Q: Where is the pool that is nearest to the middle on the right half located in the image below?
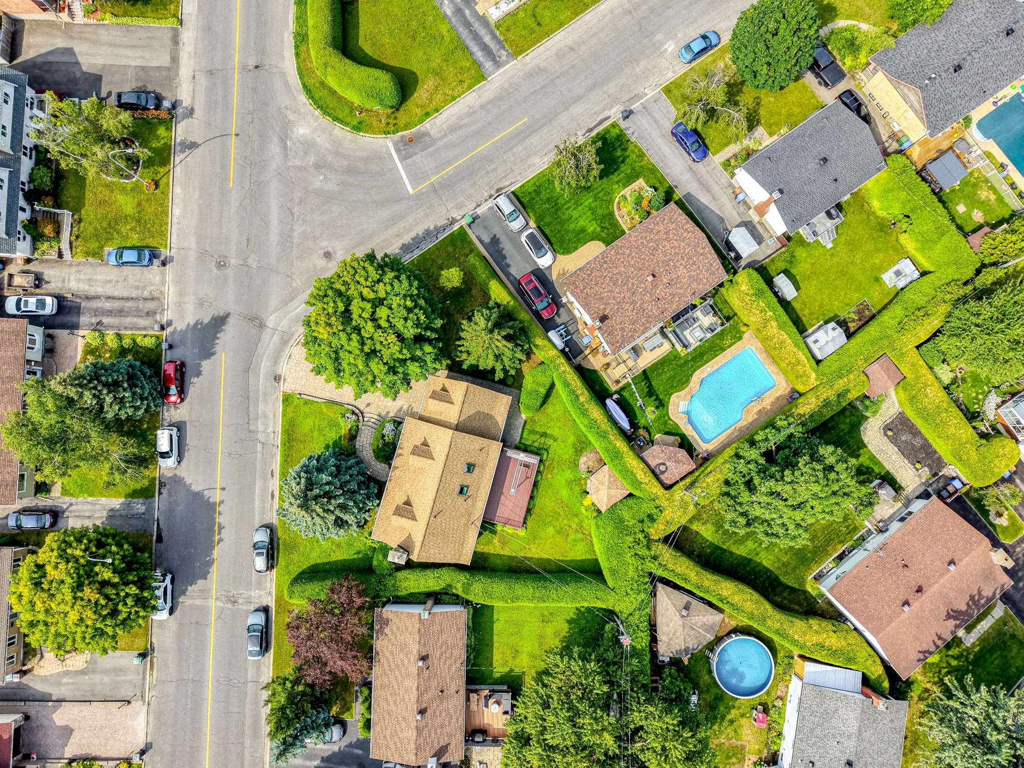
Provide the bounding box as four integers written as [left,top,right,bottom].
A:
[678,346,778,444]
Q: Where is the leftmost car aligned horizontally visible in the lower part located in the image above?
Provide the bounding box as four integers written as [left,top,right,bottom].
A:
[6,508,56,533]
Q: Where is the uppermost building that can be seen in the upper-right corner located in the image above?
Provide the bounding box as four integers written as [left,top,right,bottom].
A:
[854,0,1024,148]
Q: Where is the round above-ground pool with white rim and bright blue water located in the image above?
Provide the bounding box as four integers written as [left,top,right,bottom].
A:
[696,627,776,701]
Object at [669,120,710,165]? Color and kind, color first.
blue car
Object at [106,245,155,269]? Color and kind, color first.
blue car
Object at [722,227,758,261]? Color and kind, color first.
white trailer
